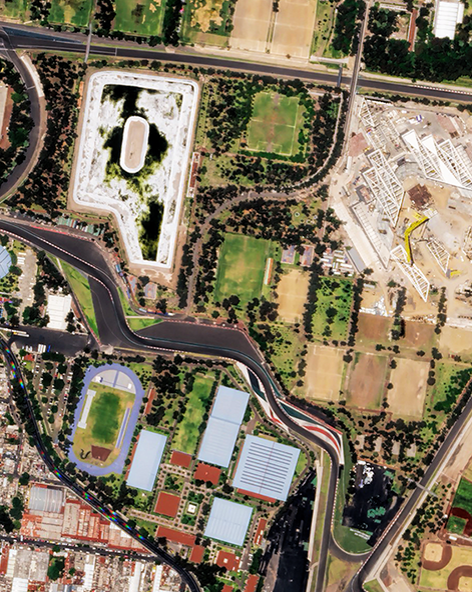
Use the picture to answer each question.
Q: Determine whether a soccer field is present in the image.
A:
Yes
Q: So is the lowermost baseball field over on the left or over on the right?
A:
right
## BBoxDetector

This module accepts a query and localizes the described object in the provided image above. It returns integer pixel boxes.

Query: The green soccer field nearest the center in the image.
[216,233,271,304]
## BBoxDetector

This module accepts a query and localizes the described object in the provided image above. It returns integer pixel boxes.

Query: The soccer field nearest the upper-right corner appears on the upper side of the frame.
[271,0,317,58]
